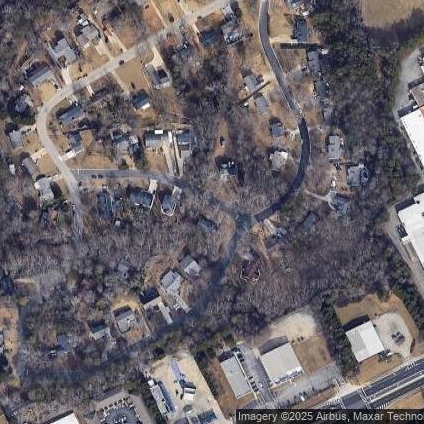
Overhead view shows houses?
Yes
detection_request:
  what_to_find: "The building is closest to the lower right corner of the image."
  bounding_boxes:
[346,321,385,362]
